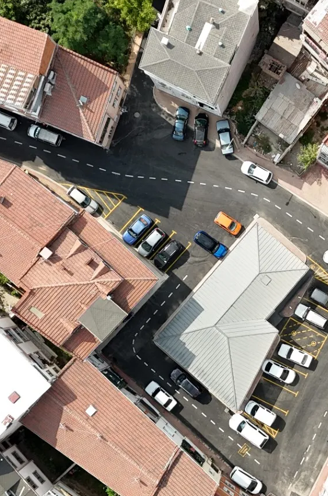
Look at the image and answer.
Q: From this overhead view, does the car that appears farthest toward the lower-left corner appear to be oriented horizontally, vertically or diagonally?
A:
diagonally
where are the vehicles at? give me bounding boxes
[154,237,186,271]
[260,360,299,385]
[306,286,328,312]
[229,413,270,448]
[171,105,190,143]
[136,226,167,258]
[277,343,314,368]
[26,123,64,148]
[293,302,328,330]
[0,111,19,132]
[217,119,235,156]
[211,209,246,237]
[242,399,279,428]
[192,111,209,149]
[192,229,229,259]
[169,366,203,401]
[145,378,178,413]
[66,186,101,216]
[123,211,155,247]
[228,465,265,494]
[240,160,275,185]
